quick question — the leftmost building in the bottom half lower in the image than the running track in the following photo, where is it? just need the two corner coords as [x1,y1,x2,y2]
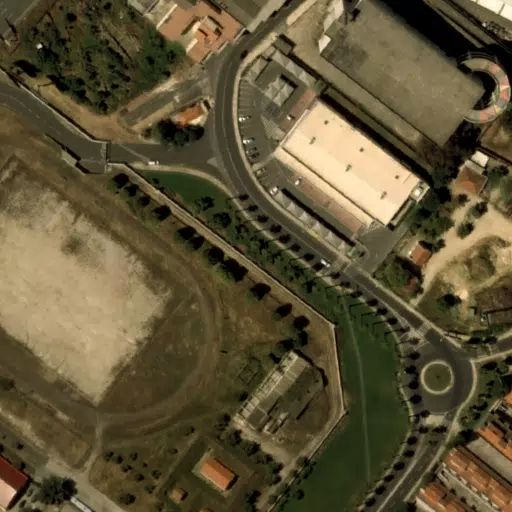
[0,455,32,508]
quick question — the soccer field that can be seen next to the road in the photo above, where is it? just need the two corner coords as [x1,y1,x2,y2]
[0,155,169,407]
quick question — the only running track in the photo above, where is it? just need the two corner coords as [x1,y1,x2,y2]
[0,116,226,435]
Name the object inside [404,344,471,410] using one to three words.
roundabout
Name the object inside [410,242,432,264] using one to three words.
shed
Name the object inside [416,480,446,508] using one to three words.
house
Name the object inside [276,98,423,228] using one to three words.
warehouse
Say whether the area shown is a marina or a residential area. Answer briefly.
residential area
